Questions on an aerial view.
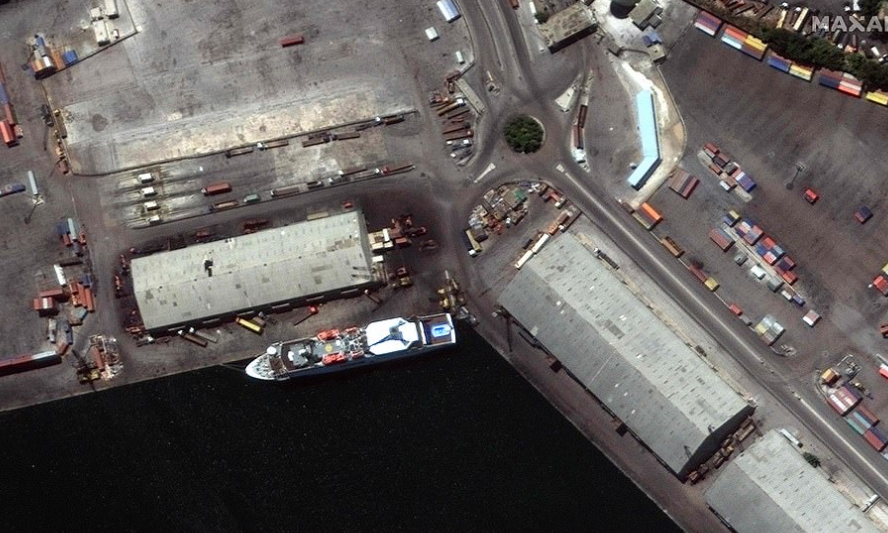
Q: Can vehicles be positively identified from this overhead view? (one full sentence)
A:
Yes, a vehicle appears in the view.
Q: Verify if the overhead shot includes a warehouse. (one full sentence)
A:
Yes, the photo shows a warehouse.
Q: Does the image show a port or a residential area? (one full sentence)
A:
The picture captures a port.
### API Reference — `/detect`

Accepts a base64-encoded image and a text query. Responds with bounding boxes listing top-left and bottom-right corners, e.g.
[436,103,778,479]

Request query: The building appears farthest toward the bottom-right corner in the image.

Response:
[705,430,881,533]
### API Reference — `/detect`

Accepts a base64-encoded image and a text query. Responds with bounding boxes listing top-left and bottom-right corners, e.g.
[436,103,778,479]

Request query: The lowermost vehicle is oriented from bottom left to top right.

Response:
[864,495,881,513]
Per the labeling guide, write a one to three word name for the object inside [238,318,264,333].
vehicle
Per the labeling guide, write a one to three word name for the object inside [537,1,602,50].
building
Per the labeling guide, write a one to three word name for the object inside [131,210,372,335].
warehouse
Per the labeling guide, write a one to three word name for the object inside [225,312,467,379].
ship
